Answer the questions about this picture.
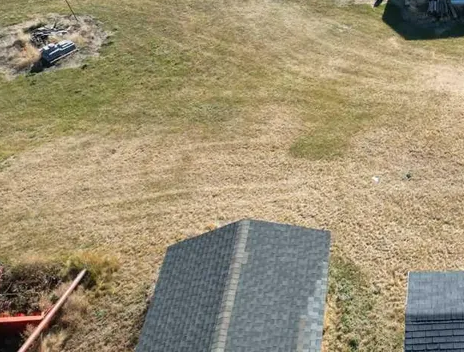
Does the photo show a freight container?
No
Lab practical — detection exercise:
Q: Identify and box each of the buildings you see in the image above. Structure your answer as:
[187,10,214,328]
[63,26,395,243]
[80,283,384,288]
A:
[404,269,464,352]
[133,217,332,352]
